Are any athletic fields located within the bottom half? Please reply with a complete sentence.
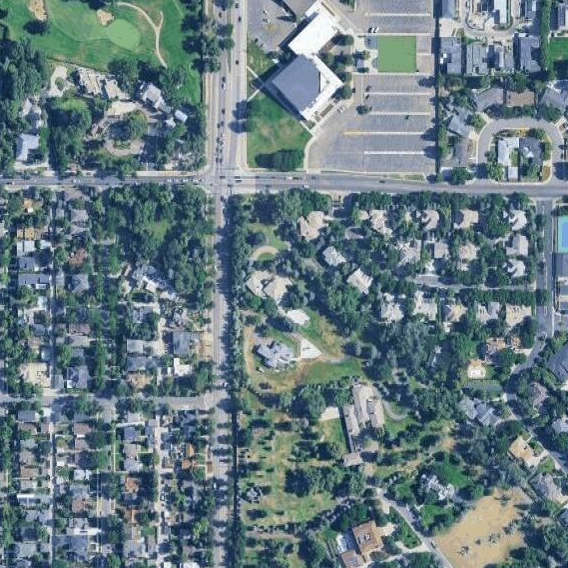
No, I can find no athletic field within the bottom half.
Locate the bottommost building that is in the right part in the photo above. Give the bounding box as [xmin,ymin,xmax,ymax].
[342,521,381,568]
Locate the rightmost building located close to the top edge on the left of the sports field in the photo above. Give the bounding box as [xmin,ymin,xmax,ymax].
[271,0,344,119]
